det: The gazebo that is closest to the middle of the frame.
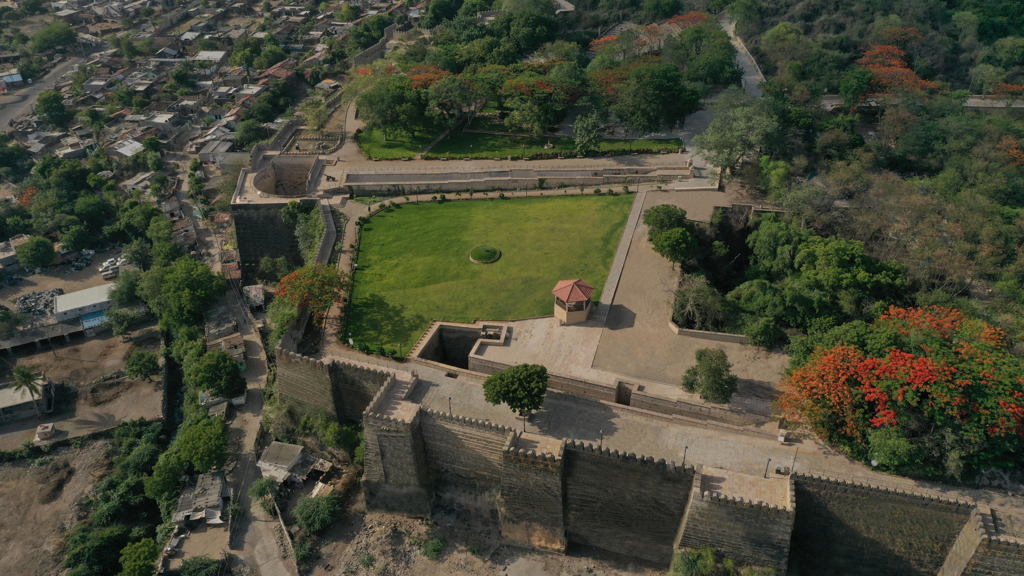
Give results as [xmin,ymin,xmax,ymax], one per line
[552,278,609,325]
